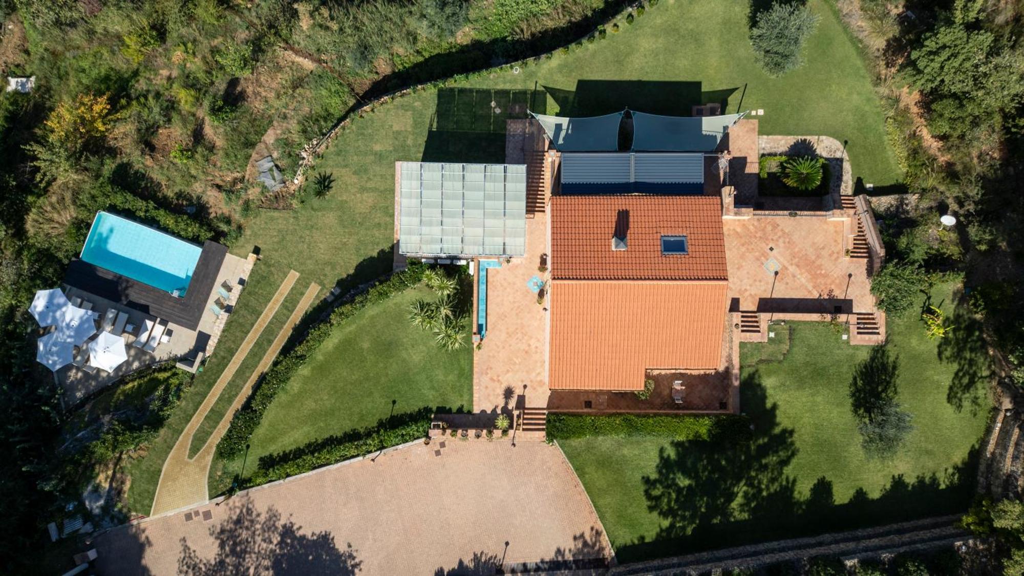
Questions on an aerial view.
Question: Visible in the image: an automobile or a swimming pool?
swimming pool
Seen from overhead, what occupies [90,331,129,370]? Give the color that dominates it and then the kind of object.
white umbrella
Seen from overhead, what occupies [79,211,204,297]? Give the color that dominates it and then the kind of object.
blue swimming pool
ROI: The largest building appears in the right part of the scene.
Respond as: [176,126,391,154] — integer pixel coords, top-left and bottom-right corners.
[543,193,728,391]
